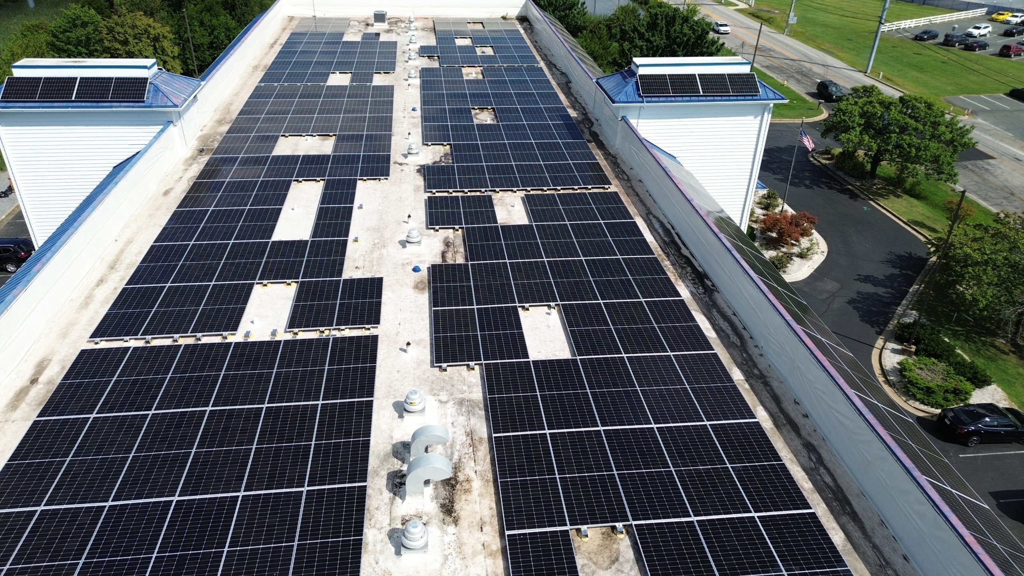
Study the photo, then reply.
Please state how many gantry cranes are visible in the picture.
0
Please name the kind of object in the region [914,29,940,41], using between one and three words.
vehicle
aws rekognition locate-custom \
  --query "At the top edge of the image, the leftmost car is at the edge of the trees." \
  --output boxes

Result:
[710,20,732,33]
